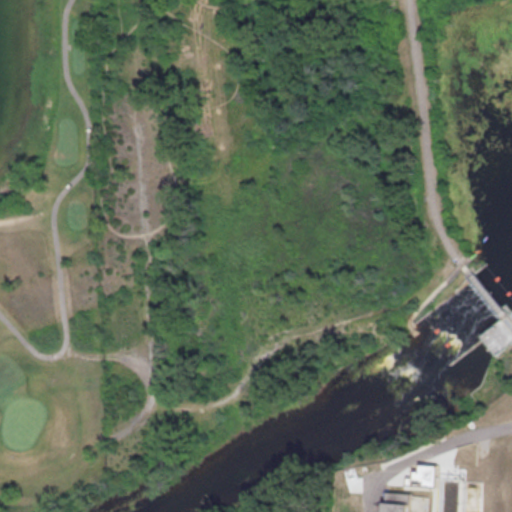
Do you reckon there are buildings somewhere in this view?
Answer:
Yes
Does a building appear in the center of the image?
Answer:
No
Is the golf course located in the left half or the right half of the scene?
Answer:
left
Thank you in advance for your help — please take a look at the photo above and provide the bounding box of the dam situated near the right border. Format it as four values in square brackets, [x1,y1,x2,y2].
[460,262,504,318]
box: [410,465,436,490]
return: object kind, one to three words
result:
building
